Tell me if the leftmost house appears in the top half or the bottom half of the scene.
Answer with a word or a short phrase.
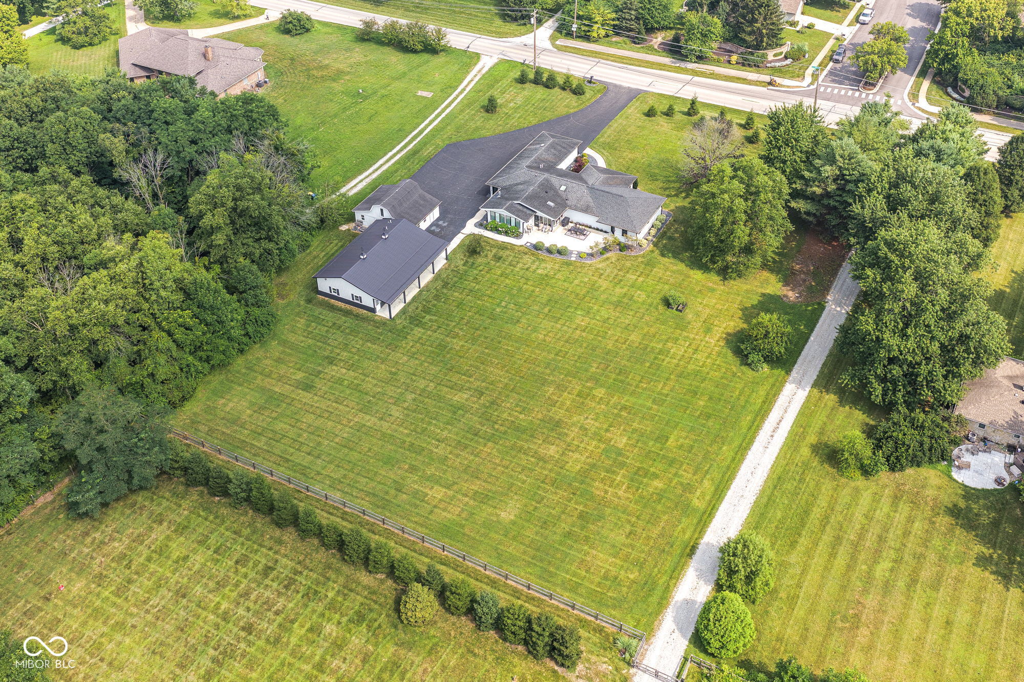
top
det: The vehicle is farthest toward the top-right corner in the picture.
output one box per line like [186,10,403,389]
[860,7,875,21]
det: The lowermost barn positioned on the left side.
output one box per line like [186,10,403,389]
[311,217,453,318]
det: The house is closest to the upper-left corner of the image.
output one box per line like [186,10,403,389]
[119,27,267,96]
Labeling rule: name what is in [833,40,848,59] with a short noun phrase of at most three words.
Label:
car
